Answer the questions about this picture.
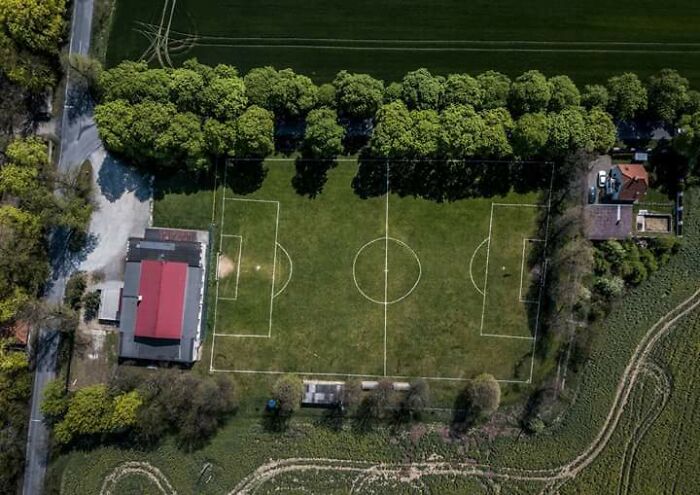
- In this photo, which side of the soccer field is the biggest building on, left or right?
left of it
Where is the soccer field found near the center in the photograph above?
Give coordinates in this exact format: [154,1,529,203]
[204,155,560,388]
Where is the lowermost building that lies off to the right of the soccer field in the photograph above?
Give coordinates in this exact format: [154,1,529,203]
[581,204,632,239]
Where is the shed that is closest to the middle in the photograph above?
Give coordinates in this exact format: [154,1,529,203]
[301,375,343,403]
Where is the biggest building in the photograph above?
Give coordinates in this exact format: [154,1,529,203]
[120,228,213,364]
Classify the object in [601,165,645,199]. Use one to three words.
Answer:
house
